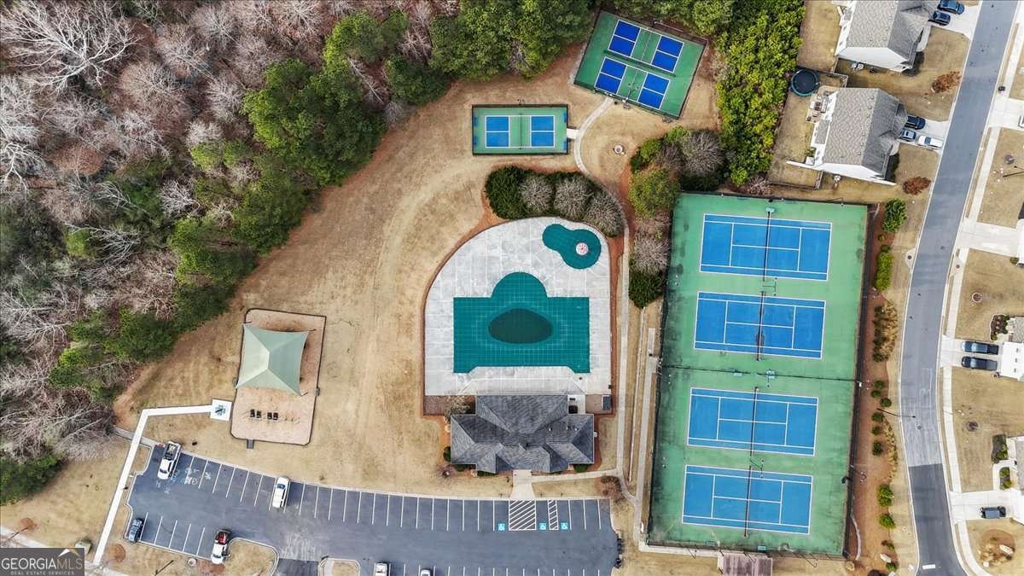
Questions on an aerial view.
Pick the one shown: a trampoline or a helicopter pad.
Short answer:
trampoline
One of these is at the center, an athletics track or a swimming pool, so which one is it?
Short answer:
swimming pool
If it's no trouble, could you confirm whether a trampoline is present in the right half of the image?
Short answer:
Yes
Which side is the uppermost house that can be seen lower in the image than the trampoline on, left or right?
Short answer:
right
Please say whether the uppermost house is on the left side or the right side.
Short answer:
right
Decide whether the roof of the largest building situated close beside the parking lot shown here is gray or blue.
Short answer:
gray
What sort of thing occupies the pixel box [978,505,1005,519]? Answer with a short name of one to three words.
car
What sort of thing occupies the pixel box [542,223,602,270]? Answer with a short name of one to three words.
swimming pool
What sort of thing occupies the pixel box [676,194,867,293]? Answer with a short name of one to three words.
tennis court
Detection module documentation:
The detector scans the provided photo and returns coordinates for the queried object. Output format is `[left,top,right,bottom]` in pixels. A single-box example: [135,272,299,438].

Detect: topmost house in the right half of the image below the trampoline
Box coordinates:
[807,90,906,182]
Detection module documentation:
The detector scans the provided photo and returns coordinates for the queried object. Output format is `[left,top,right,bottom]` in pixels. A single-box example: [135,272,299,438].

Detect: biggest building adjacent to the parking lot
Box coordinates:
[450,394,594,475]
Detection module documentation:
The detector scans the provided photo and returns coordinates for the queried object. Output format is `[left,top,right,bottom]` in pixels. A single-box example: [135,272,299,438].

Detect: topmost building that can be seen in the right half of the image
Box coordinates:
[835,0,937,72]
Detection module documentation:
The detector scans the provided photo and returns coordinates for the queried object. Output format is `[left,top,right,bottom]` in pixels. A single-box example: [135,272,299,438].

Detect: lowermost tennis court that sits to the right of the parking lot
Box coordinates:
[651,454,848,554]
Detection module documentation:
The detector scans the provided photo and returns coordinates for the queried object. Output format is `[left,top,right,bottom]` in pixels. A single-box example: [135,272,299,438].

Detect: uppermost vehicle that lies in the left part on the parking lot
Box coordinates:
[160,443,181,478]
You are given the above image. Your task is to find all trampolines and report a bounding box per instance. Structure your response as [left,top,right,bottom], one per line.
[791,65,825,96]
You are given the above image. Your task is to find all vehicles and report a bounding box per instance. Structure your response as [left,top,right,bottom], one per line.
[901,114,928,130]
[375,562,387,576]
[420,569,431,576]
[960,357,996,370]
[934,0,962,15]
[160,443,181,478]
[273,478,290,508]
[904,128,920,142]
[934,10,952,26]
[978,505,1005,519]
[915,133,944,149]
[212,527,231,562]
[962,341,998,354]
